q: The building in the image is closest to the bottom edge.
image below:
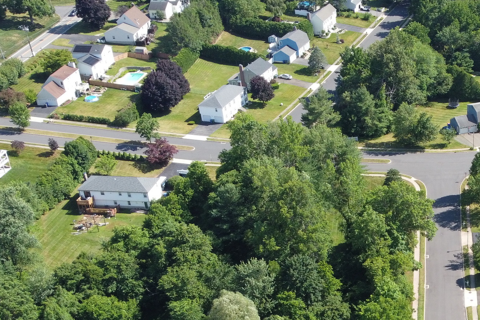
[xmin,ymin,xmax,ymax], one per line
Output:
[76,172,162,216]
